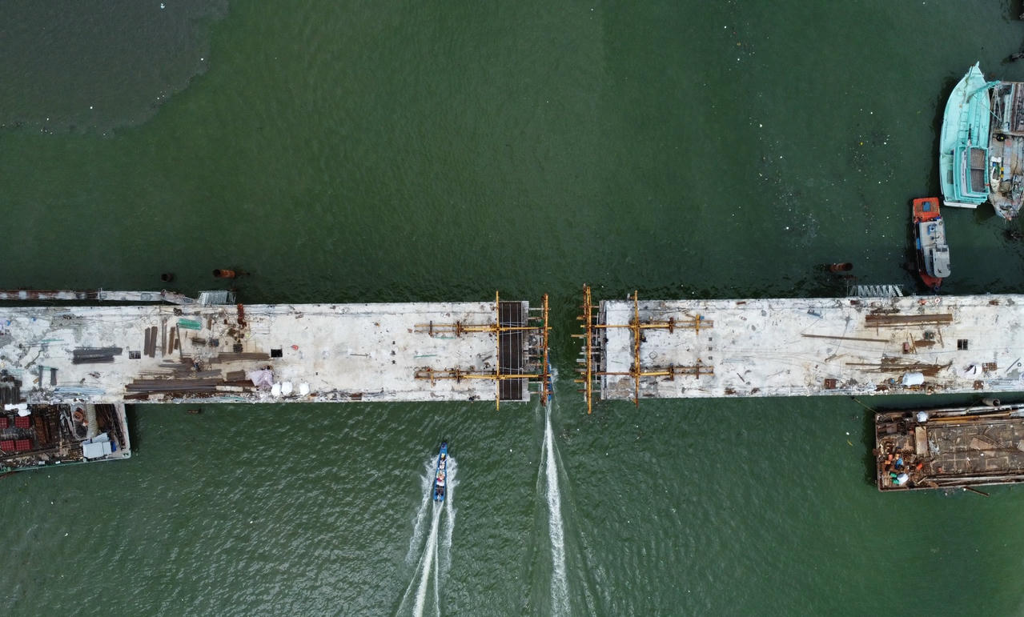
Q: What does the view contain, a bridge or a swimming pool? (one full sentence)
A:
Of the two, only a bridge appears.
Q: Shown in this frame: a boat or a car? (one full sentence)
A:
This aerial view contains a boat.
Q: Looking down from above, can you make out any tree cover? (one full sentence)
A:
No, the scene doesn't show any tree cover.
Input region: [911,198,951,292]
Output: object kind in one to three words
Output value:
boat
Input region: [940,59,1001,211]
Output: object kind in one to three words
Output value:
boat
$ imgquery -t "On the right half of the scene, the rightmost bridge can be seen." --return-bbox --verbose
[600,294,1024,399]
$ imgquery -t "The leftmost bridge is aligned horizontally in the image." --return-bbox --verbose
[0,301,529,404]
